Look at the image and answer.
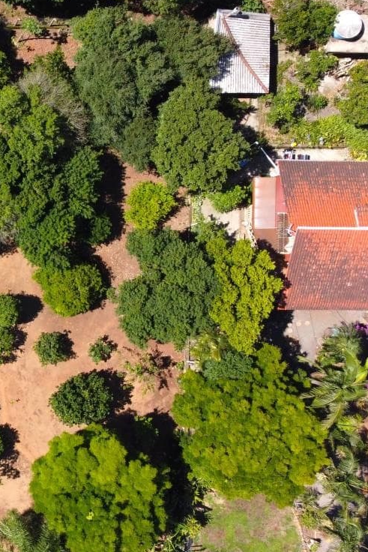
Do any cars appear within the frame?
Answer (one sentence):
No, the photo shows no car.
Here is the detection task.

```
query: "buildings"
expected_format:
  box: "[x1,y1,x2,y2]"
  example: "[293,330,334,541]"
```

[204,4,271,97]
[271,159,368,311]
